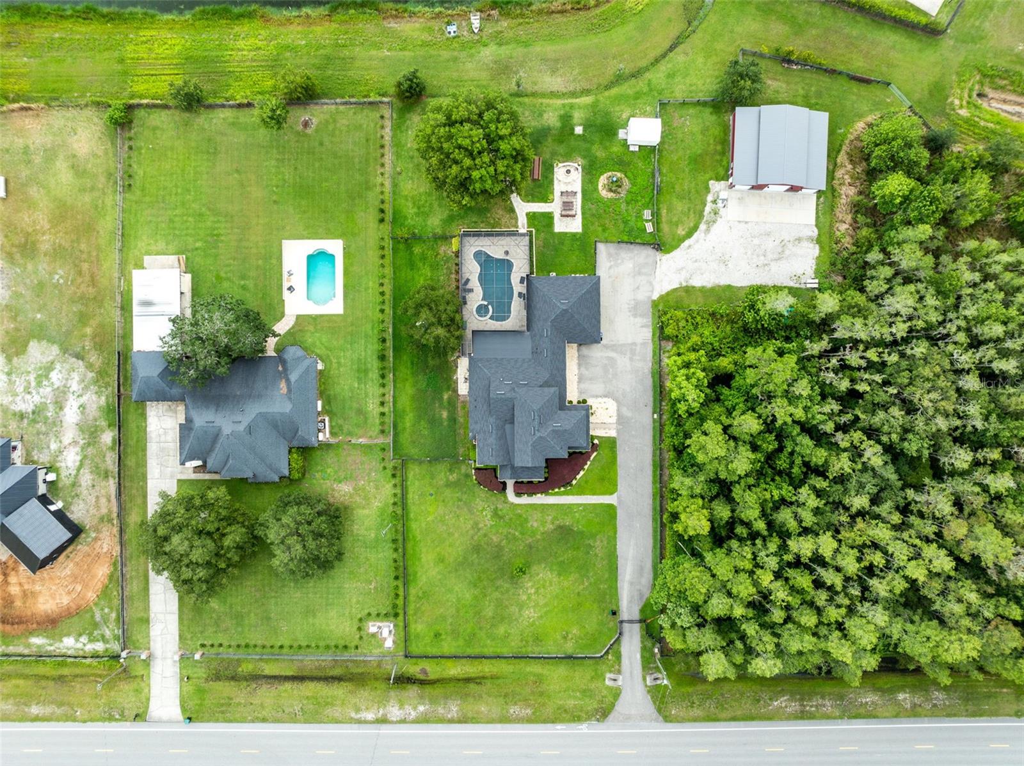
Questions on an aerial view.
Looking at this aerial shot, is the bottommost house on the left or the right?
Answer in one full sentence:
The bottommost house sits on the left side.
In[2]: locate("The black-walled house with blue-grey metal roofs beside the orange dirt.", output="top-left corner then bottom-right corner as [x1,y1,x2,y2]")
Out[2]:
[0,438,84,575]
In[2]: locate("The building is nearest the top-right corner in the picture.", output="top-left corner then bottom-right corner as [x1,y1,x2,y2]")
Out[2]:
[725,104,829,194]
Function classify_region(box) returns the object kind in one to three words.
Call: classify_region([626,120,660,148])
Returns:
shed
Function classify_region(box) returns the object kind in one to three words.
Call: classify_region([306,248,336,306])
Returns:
swimming pool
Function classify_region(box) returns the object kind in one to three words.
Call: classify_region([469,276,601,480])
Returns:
house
